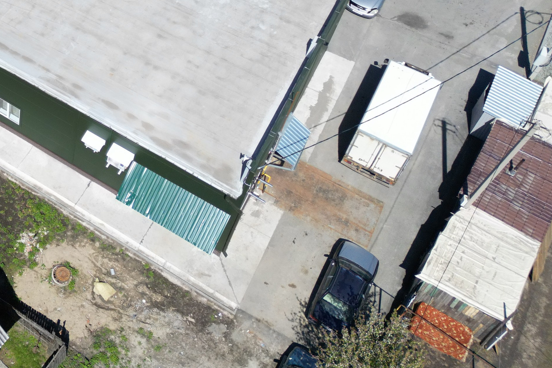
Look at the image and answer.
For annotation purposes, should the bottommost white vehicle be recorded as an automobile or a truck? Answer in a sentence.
The bottommost white vehicle is a truck.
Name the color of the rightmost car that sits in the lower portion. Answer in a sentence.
The rightmost car that sits in the lower portion looks black in the image.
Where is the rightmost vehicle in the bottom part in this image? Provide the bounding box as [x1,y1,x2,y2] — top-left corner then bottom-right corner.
[299,241,378,347]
